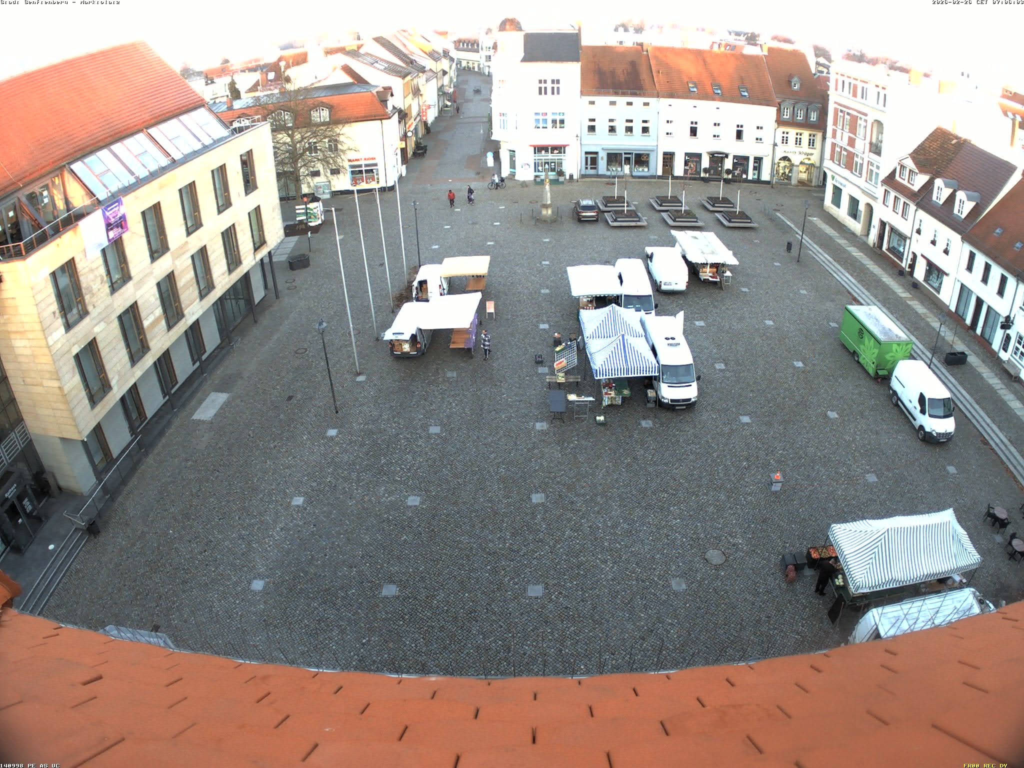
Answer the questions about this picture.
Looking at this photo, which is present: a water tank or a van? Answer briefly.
van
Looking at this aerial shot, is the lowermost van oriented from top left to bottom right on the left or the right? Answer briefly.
right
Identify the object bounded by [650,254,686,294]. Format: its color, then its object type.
white van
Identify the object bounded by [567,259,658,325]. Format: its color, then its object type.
white van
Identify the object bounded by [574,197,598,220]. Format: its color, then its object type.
gray car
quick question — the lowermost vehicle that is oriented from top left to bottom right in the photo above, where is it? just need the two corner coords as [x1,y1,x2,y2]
[882,352,953,443]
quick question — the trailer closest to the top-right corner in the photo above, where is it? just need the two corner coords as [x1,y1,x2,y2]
[839,301,916,375]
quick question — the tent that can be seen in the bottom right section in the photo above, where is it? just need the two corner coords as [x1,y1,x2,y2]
[822,509,983,630]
